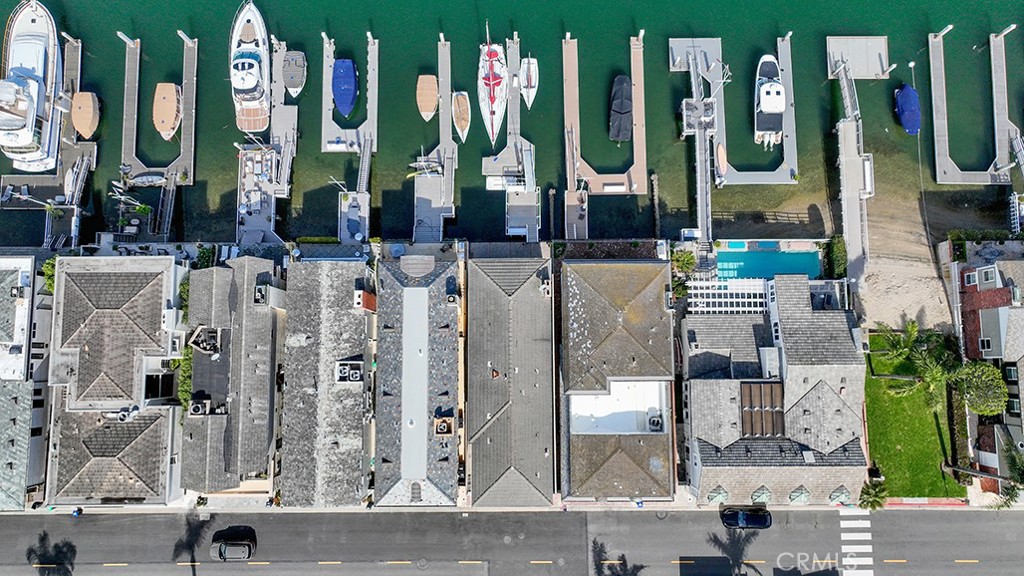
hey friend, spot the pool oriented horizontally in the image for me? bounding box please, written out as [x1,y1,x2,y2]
[679,236,835,283]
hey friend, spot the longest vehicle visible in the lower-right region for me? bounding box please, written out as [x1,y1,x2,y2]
[718,506,771,531]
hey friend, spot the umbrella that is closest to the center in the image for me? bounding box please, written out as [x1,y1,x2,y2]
[388,242,404,257]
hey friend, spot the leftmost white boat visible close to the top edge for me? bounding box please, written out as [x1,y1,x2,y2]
[0,0,69,172]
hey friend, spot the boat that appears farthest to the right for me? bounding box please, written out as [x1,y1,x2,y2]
[890,81,922,137]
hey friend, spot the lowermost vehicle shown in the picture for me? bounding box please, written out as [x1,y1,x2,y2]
[211,539,257,564]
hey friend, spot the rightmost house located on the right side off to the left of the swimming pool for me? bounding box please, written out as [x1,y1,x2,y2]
[562,259,676,501]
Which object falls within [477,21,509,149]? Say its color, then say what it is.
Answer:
white boat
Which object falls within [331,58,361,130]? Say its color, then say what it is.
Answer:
blue boat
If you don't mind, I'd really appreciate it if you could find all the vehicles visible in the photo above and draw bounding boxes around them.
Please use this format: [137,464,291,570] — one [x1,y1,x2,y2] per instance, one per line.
[211,539,257,564]
[718,506,771,531]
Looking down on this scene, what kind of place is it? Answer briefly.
residential area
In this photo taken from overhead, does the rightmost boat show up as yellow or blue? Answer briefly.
blue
